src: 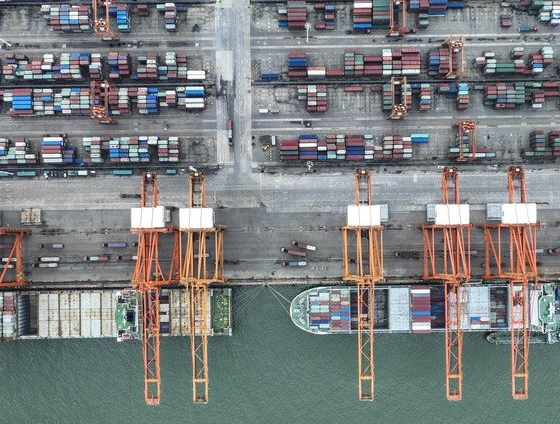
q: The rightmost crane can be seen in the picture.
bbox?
[476,166,542,401]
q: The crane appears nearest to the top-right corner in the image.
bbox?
[439,36,466,84]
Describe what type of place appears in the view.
port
